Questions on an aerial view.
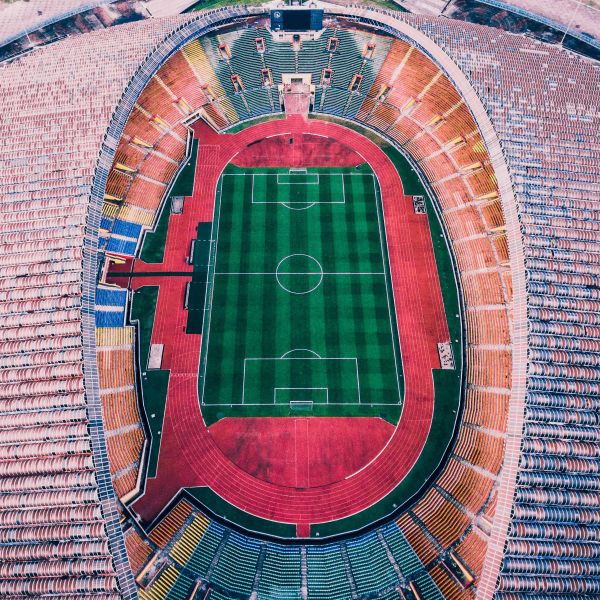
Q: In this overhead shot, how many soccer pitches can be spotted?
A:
1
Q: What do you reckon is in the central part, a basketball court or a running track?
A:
running track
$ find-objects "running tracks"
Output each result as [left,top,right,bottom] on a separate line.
[121,114,450,537]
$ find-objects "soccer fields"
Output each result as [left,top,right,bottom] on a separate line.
[197,163,404,451]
